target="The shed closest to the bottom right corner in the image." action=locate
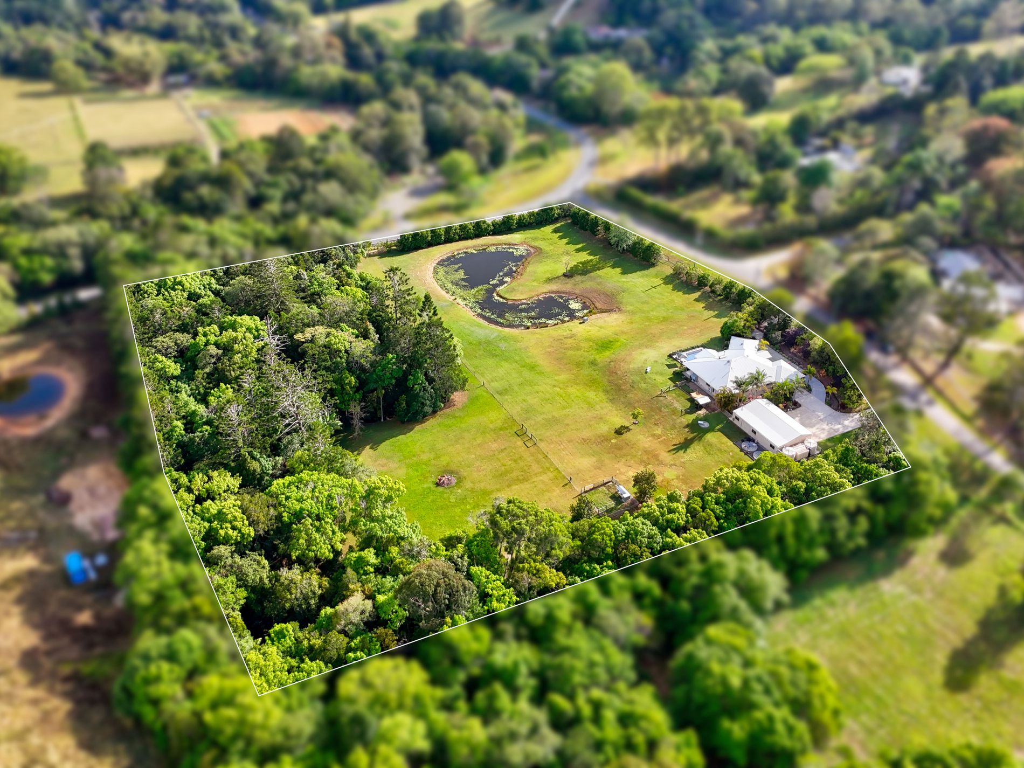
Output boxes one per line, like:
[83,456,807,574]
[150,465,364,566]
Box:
[730,400,812,457]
